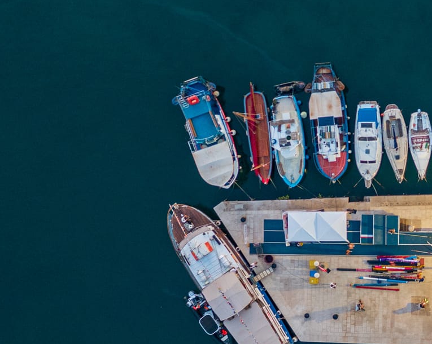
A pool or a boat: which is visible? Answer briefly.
boat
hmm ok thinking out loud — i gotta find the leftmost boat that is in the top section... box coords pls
[172,75,249,197]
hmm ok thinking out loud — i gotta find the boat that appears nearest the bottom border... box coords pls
[185,290,231,344]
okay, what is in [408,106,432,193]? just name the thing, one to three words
boat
